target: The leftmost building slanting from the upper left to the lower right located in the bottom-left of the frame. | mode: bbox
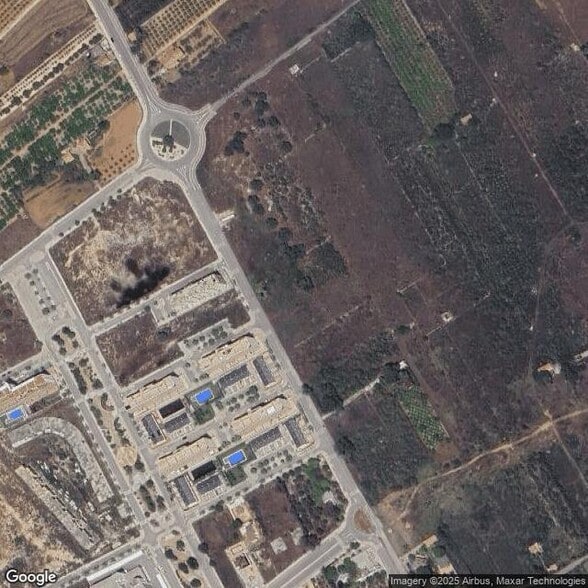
[15,465,99,549]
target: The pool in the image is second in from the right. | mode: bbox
[194,388,215,405]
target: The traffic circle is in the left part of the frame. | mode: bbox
[123,86,211,193]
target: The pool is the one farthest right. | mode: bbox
[224,448,247,467]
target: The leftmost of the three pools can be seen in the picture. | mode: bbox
[4,407,26,422]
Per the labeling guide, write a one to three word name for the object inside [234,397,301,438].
building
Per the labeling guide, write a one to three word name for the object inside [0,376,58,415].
building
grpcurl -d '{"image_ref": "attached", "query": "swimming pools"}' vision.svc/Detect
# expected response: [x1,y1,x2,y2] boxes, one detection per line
[4,407,26,422]
[194,388,215,405]
[224,448,247,467]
